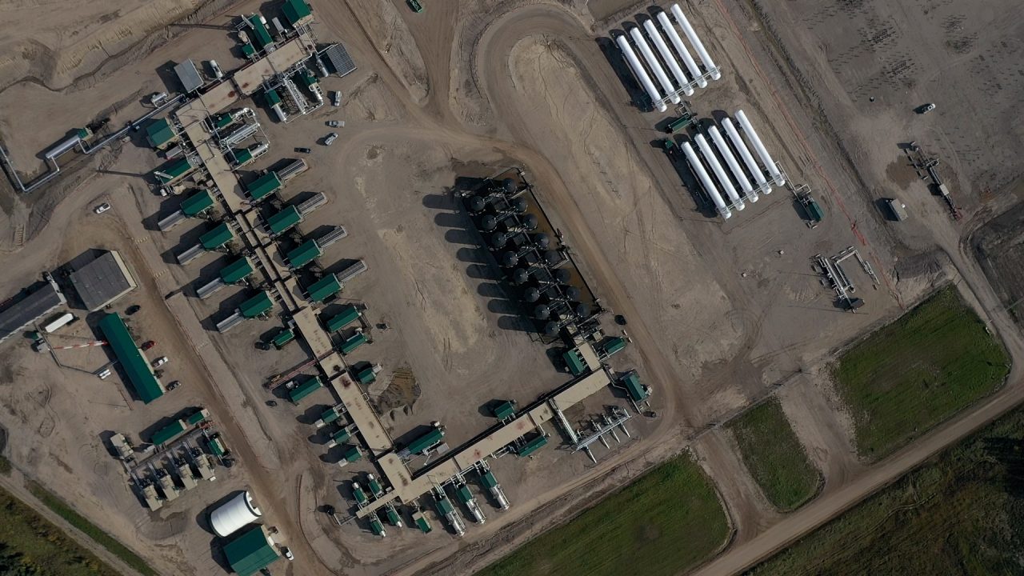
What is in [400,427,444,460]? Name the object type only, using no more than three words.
building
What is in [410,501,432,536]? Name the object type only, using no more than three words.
shed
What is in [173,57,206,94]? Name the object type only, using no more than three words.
shed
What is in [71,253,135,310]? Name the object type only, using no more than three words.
building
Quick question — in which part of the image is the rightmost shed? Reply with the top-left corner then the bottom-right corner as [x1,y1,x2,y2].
[796,192,824,226]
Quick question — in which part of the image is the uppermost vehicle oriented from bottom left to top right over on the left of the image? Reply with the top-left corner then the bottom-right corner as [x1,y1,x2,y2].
[323,132,338,146]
